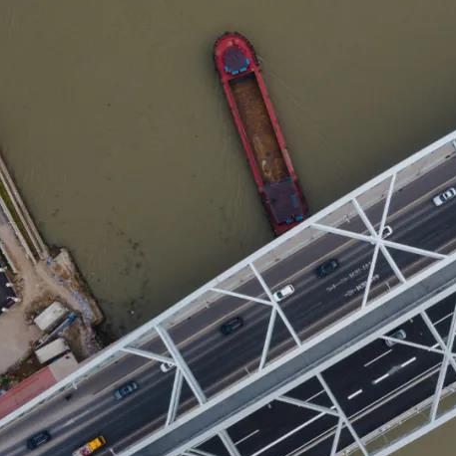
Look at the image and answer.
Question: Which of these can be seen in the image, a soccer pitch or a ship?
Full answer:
I can see a ship in this picture.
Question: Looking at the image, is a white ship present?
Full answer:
No, I find no white ship anywhere in the image.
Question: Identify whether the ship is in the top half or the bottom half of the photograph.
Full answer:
The top half of the photo is where the ship is.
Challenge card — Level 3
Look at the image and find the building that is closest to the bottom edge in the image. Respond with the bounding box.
[35,338,74,364]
